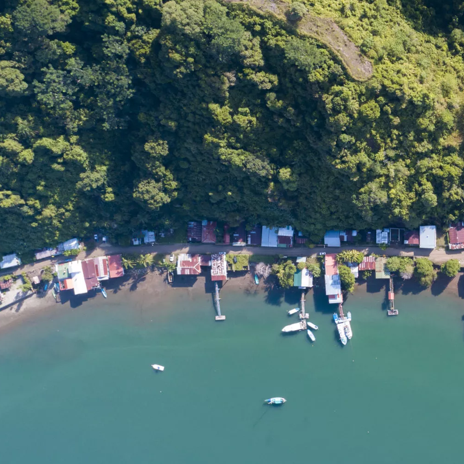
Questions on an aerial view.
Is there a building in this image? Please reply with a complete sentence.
Yes, there's a building here.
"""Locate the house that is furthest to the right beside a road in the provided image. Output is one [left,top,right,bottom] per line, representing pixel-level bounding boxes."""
[449,222,464,249]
